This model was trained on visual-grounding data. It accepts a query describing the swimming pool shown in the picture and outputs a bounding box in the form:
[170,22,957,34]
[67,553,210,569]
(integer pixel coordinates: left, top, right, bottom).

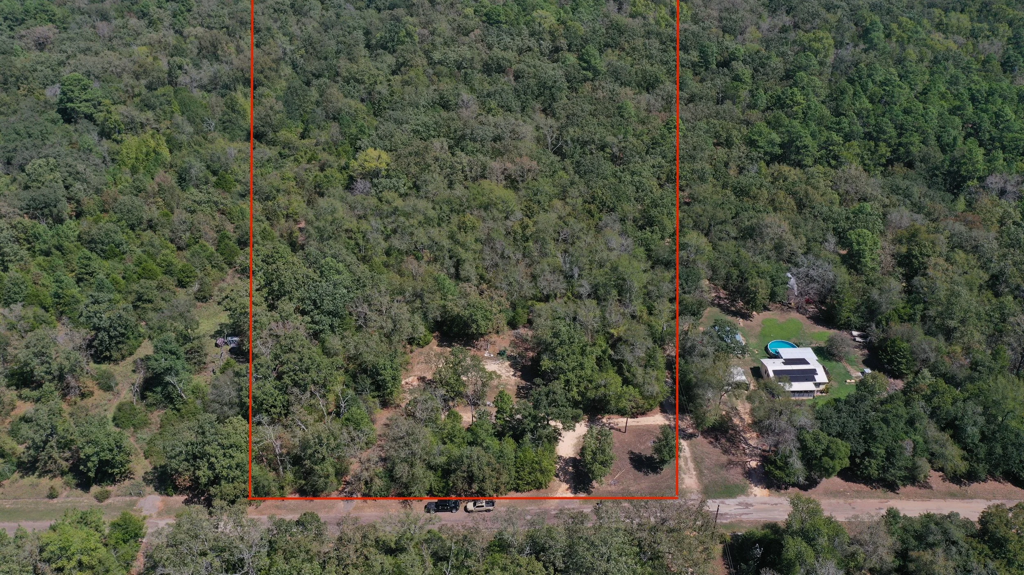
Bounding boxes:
[765,340,796,359]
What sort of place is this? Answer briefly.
forest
